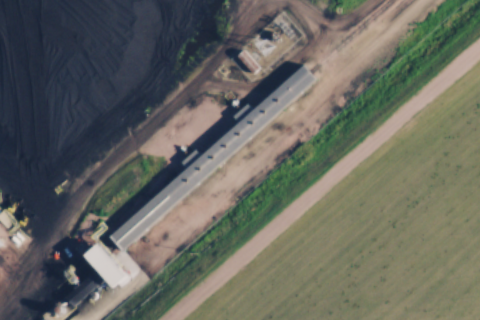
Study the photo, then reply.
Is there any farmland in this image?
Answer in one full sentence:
Yes, there's farmland in this view.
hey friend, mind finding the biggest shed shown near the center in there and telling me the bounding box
[110,65,316,248]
